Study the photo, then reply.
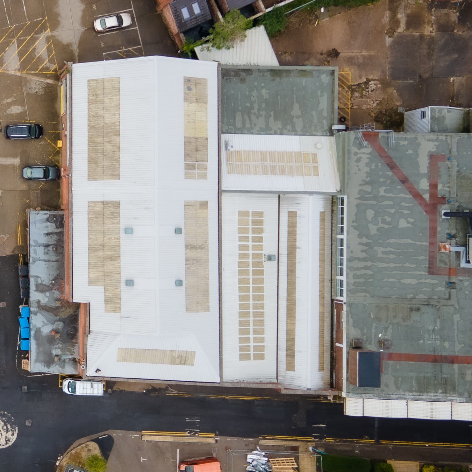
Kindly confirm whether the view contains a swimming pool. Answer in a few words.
No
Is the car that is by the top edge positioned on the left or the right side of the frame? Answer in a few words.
left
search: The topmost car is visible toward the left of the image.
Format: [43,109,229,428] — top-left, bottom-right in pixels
[92,11,132,34]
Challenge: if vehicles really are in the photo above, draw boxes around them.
[62,378,105,397]
[4,122,43,141]
[92,11,132,34]
[177,456,223,472]
[22,164,59,182]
